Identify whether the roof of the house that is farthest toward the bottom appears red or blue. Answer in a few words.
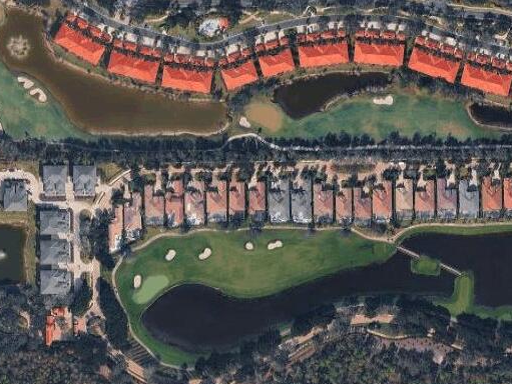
red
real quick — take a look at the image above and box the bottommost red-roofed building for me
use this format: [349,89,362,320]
[45,308,72,347]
